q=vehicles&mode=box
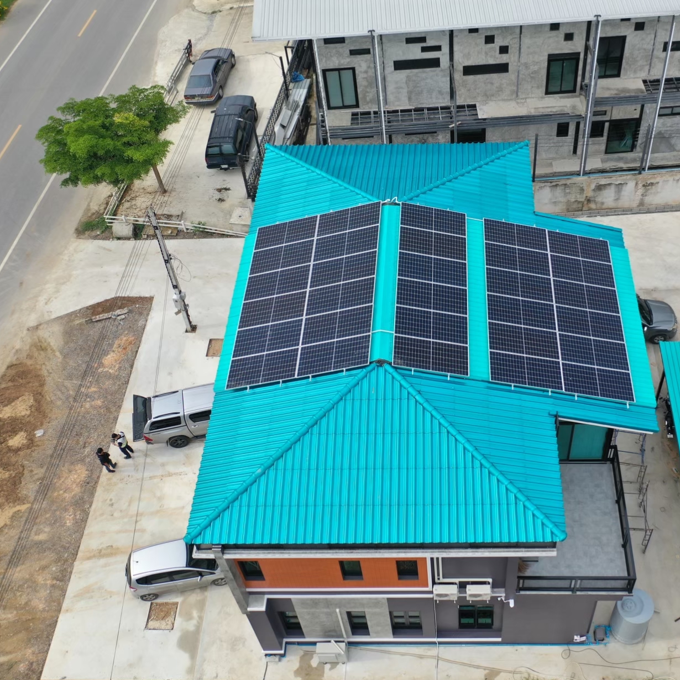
[186,45,236,103]
[126,535,224,601]
[637,293,680,345]
[128,383,220,449]
[207,96,260,166]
